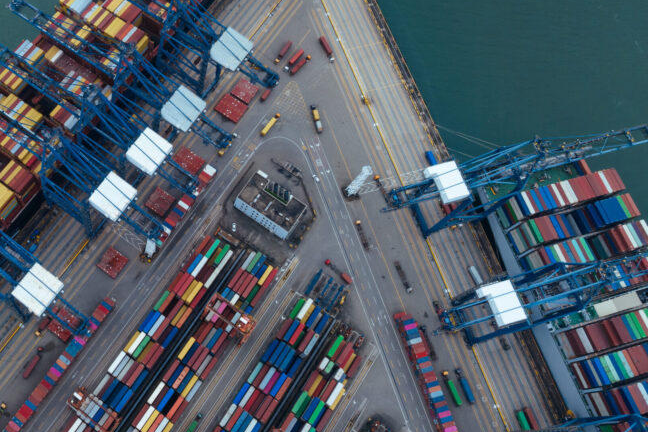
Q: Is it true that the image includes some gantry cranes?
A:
Yes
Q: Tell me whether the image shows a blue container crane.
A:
Yes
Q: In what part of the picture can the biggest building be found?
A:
center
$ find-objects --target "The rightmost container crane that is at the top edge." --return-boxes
[127,0,278,101]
